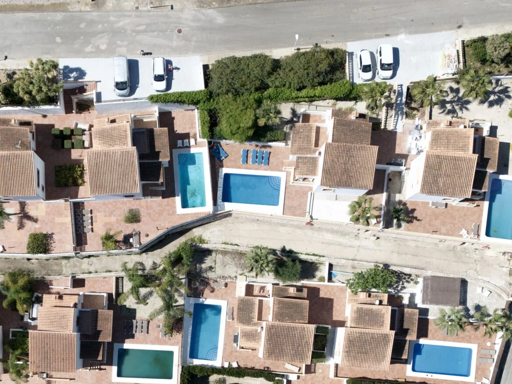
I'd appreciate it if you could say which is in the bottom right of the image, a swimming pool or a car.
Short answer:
swimming pool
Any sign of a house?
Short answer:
Yes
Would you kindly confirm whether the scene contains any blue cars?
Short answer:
No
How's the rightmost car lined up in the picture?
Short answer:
vertically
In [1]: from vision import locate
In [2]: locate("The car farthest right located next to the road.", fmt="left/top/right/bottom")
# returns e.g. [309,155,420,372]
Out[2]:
[376,42,396,81]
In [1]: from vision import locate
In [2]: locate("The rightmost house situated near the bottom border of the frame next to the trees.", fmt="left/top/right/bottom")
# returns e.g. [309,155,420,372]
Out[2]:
[331,290,418,371]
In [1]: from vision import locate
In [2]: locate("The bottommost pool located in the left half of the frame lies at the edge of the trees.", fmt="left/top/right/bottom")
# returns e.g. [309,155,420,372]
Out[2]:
[111,343,179,384]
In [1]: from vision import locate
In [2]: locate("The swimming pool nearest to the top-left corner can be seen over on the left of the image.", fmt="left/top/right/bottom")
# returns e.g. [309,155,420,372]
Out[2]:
[172,148,211,214]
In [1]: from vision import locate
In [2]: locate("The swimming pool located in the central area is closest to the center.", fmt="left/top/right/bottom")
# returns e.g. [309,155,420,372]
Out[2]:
[216,168,286,214]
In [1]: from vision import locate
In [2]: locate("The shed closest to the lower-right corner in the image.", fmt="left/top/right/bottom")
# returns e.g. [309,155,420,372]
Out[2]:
[418,276,461,307]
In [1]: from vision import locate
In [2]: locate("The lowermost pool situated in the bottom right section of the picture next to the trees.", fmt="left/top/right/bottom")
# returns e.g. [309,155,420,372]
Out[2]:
[406,340,478,382]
